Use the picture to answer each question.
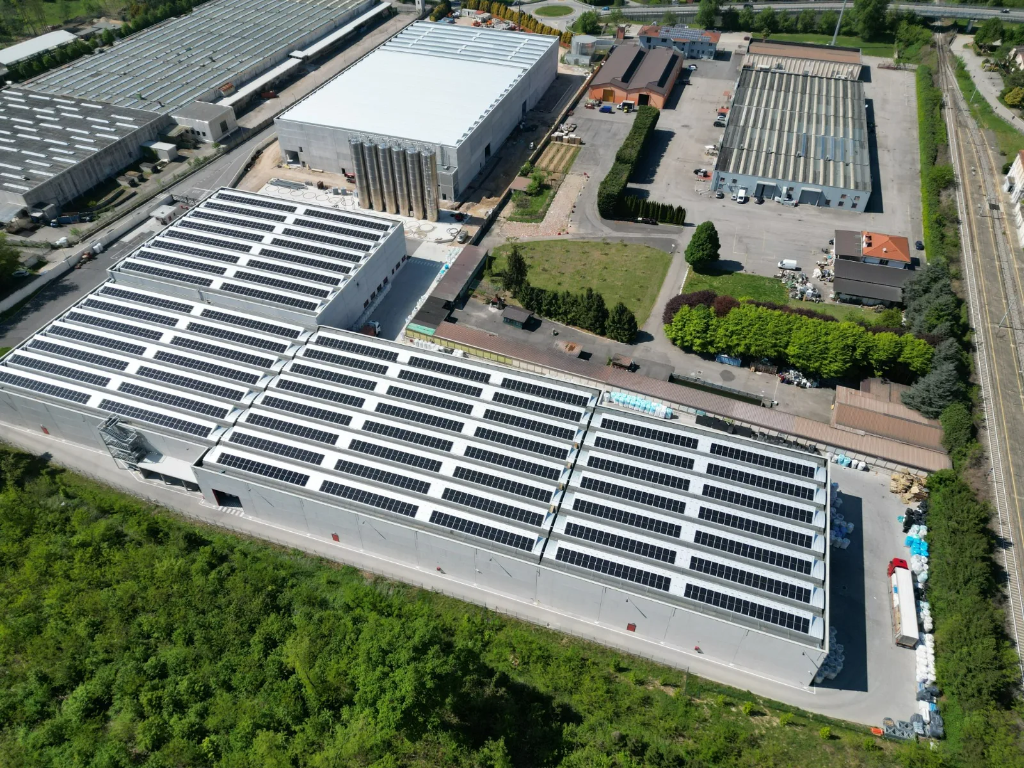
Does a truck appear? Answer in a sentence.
Yes, I can see a truck in this picture.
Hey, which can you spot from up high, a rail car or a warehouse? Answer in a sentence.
Looking from above, you can make out a warehouse.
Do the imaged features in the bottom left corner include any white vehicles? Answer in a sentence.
No, in the bottom left corner there is no white vehicle.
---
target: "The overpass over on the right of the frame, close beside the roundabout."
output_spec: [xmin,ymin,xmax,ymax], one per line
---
[601,1,1024,27]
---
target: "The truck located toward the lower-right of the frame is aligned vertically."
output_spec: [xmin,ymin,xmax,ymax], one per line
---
[887,555,922,652]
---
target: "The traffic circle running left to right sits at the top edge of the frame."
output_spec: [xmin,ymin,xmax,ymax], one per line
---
[516,0,591,22]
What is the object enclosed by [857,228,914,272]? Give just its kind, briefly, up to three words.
house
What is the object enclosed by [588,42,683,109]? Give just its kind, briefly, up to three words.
building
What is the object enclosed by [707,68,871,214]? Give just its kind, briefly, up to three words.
warehouse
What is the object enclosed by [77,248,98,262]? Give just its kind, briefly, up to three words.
work vehicle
